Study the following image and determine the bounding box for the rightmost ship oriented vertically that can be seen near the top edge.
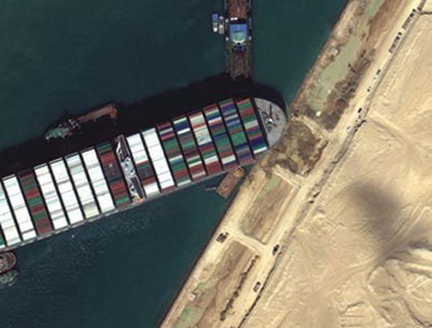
[226,0,252,78]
